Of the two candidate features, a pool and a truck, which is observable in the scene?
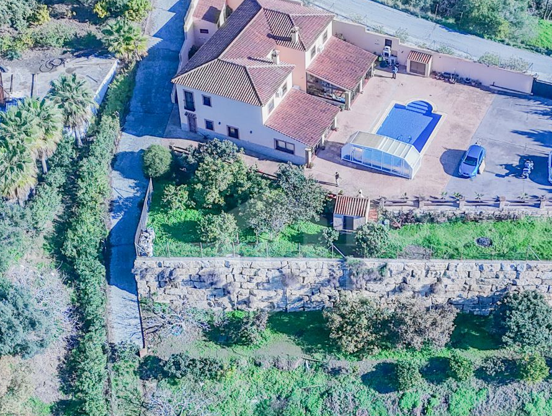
pool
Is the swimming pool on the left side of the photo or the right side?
right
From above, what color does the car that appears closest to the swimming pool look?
blue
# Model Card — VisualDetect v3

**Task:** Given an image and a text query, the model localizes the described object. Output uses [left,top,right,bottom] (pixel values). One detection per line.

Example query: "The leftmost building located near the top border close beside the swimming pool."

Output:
[166,0,378,164]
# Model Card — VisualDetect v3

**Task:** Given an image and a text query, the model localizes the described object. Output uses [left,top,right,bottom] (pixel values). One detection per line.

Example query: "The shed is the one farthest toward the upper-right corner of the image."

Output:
[406,48,431,74]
